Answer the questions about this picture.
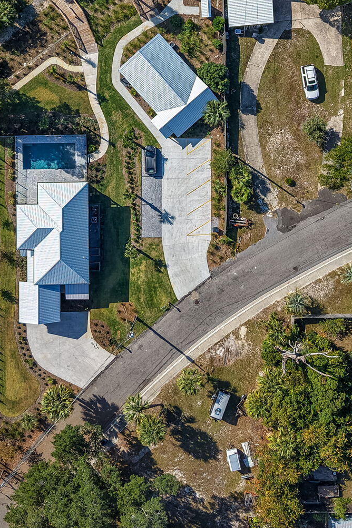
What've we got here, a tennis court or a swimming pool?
swimming pool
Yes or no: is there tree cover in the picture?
Yes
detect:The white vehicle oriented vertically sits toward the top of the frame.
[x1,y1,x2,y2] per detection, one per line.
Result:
[300,65,319,100]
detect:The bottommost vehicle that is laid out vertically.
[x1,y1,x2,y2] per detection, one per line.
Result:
[227,445,241,476]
